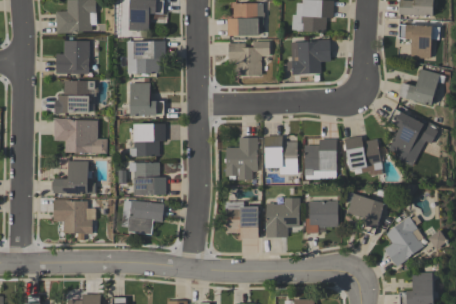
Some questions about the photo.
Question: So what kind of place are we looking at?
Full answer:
It's a residential area.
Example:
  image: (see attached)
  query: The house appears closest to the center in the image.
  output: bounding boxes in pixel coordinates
[226,138,258,180]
